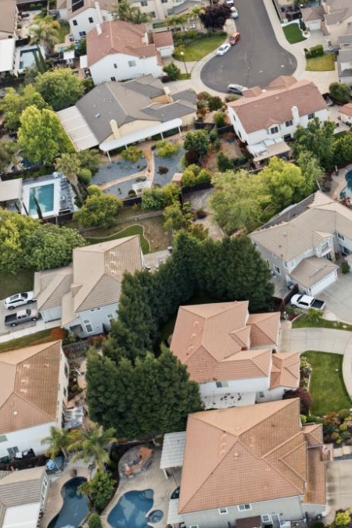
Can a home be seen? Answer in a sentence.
Yes, I can see a home in this picture.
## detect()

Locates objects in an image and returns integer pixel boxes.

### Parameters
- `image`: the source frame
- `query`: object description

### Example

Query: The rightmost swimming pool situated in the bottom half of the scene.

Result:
[147,506,167,526]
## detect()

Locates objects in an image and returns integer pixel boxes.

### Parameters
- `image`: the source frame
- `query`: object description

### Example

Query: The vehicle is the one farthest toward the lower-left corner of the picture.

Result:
[0,308,34,328]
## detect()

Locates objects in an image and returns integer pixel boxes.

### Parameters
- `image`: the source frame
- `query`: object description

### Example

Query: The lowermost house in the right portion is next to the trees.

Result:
[162,397,327,528]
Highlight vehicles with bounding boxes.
[214,44,233,55]
[3,292,31,309]
[0,308,34,328]
[227,81,250,95]
[289,292,327,312]
[228,34,241,45]
[230,8,240,18]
